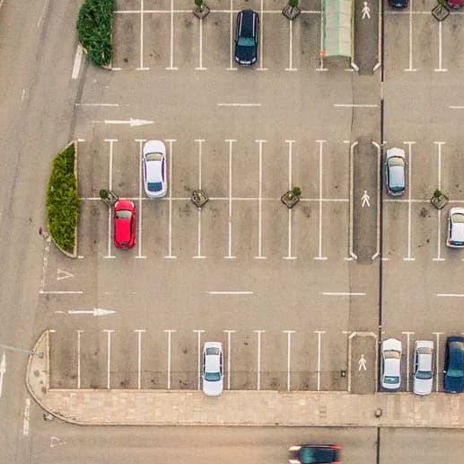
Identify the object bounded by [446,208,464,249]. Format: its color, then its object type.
white car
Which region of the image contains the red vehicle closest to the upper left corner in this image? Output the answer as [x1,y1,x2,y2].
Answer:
[112,202,136,248]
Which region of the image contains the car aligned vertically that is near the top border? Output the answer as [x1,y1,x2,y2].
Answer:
[234,10,258,66]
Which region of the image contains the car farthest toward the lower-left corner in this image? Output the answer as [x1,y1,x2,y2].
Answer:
[200,342,223,395]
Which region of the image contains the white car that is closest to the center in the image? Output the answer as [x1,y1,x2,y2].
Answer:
[141,141,167,198]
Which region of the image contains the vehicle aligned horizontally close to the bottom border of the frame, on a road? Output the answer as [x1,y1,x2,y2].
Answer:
[292,443,338,464]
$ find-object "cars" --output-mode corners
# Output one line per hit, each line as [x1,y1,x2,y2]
[411,342,436,394]
[380,339,403,389]
[446,208,464,249]
[234,10,258,66]
[112,202,136,248]
[292,443,338,464]
[443,337,464,392]
[384,149,408,196]
[388,0,410,9]
[141,141,167,198]
[200,342,223,395]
